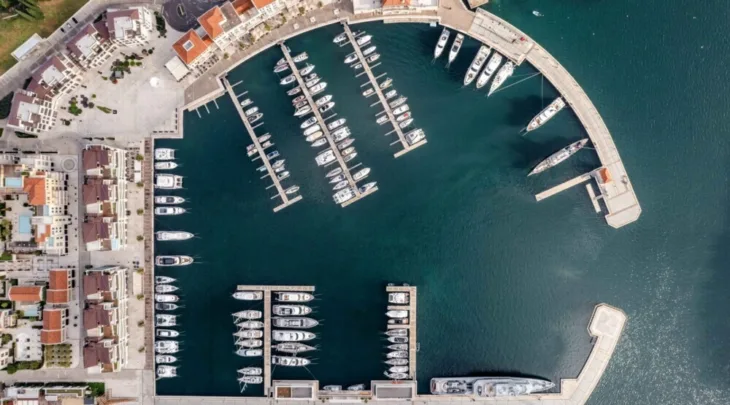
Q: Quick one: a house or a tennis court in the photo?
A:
house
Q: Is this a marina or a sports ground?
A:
marina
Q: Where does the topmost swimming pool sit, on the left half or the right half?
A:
left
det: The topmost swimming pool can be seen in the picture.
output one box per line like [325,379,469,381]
[0,165,28,189]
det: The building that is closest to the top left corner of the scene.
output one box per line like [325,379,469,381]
[10,33,48,61]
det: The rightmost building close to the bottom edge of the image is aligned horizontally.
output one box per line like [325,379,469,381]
[376,384,414,400]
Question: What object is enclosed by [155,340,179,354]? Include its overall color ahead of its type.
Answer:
white boat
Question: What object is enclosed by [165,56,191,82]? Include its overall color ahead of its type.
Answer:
white tent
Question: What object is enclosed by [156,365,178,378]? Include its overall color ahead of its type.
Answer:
white boat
